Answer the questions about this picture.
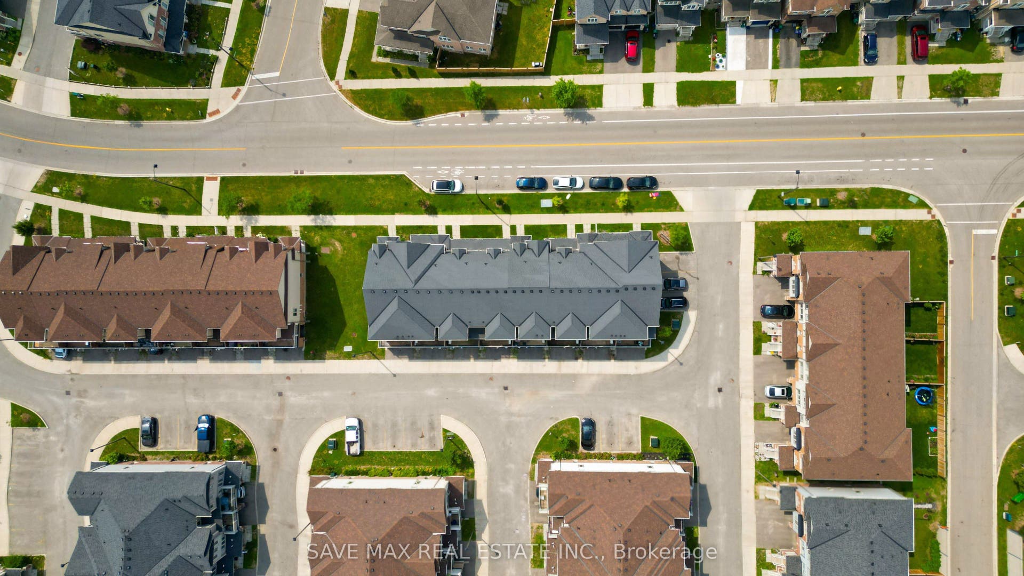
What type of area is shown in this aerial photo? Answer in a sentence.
This looks like a residential area.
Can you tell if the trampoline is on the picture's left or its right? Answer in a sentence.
The trampoline appears in the right half of the scene.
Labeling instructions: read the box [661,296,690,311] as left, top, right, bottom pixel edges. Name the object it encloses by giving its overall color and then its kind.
black car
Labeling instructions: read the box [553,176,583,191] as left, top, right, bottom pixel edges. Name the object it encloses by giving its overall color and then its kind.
white car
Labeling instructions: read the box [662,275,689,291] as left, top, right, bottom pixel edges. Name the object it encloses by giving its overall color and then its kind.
black car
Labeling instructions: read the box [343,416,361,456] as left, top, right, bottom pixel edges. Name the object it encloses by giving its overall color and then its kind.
white vehicle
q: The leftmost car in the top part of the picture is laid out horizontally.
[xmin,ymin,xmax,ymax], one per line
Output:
[431,178,463,193]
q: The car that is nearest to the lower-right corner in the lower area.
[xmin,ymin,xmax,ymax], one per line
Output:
[764,385,793,400]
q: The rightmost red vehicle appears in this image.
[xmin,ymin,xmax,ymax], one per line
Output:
[911,26,930,61]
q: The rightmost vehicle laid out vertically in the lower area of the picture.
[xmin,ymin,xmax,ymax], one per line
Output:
[580,417,595,450]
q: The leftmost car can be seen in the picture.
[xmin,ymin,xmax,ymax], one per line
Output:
[52,348,70,362]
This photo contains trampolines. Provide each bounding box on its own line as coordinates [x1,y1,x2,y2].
[913,387,941,408]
